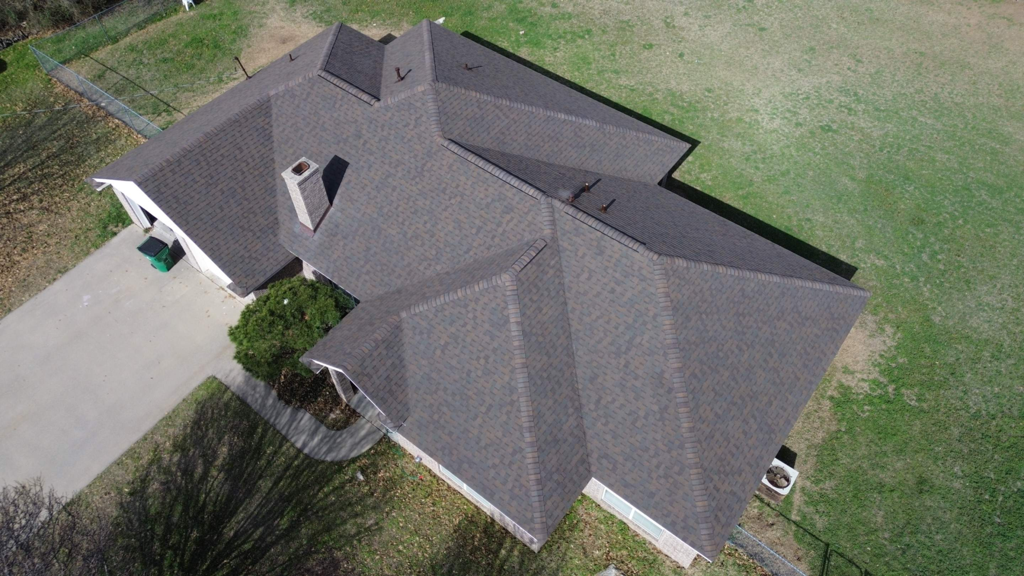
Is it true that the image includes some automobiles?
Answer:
No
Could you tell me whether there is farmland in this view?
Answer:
No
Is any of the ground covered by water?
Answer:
No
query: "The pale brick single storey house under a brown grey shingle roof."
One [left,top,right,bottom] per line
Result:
[84,18,873,569]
